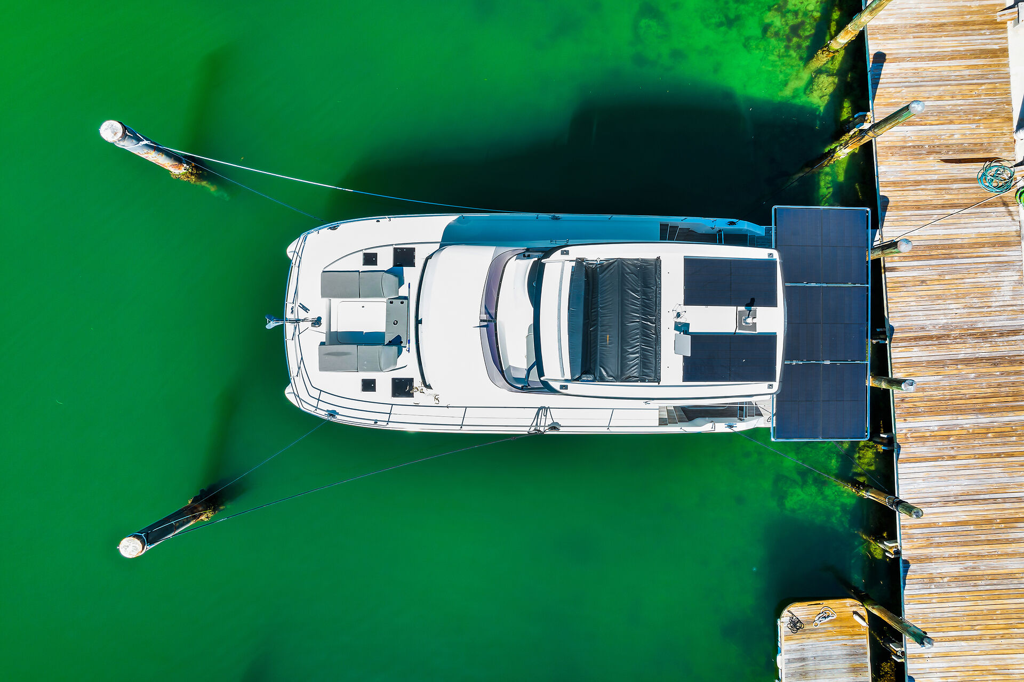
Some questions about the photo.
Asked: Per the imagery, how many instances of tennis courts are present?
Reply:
0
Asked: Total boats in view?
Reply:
1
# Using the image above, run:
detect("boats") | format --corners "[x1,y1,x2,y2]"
[265,206,871,441]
